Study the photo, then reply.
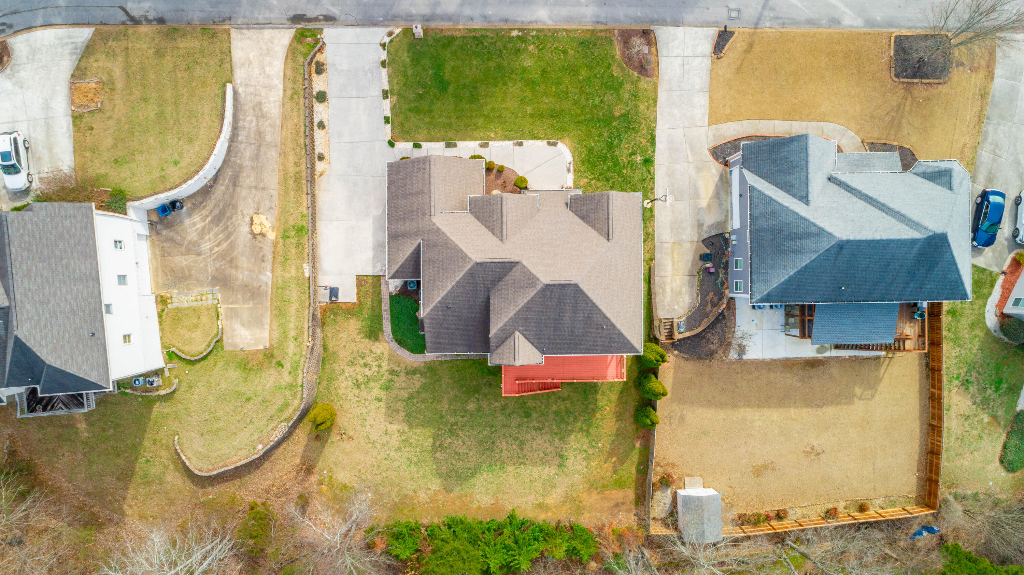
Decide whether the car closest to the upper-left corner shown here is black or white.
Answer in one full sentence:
The car closest to the upper-left corner is white.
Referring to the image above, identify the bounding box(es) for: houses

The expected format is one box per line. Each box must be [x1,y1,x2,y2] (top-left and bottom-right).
[1000,267,1024,319]
[726,134,973,345]
[0,199,166,396]
[385,155,643,366]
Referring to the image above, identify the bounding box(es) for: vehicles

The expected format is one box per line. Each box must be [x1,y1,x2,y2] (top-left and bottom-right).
[0,131,35,193]
[1014,191,1024,246]
[971,192,1008,247]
